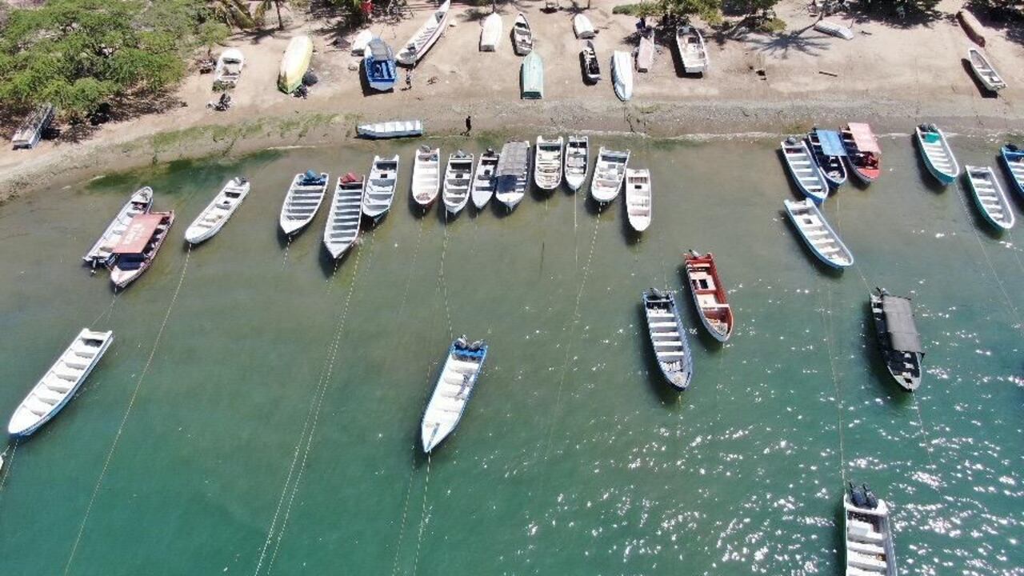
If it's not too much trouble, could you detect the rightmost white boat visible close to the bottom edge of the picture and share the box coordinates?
[841,483,896,576]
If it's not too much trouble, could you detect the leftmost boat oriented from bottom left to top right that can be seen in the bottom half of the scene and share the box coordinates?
[8,329,115,434]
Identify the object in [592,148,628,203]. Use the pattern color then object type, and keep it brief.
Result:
white boat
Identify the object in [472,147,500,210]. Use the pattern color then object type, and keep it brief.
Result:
white boat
